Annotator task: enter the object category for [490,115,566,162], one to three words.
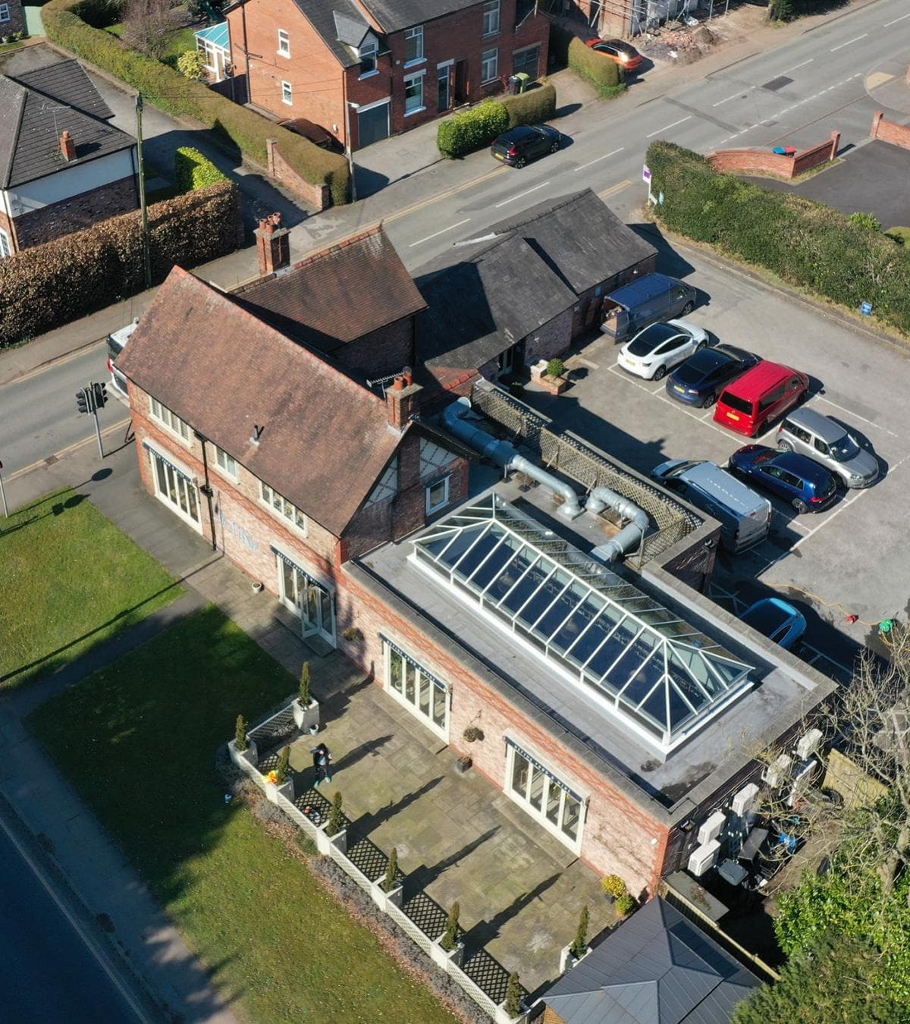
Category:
car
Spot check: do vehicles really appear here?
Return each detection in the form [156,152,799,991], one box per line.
[725,433,846,511]
[637,450,778,553]
[736,594,812,653]
[773,396,890,486]
[490,115,566,162]
[587,269,708,349]
[664,340,766,411]
[712,354,817,436]
[103,326,145,385]
[615,316,715,383]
